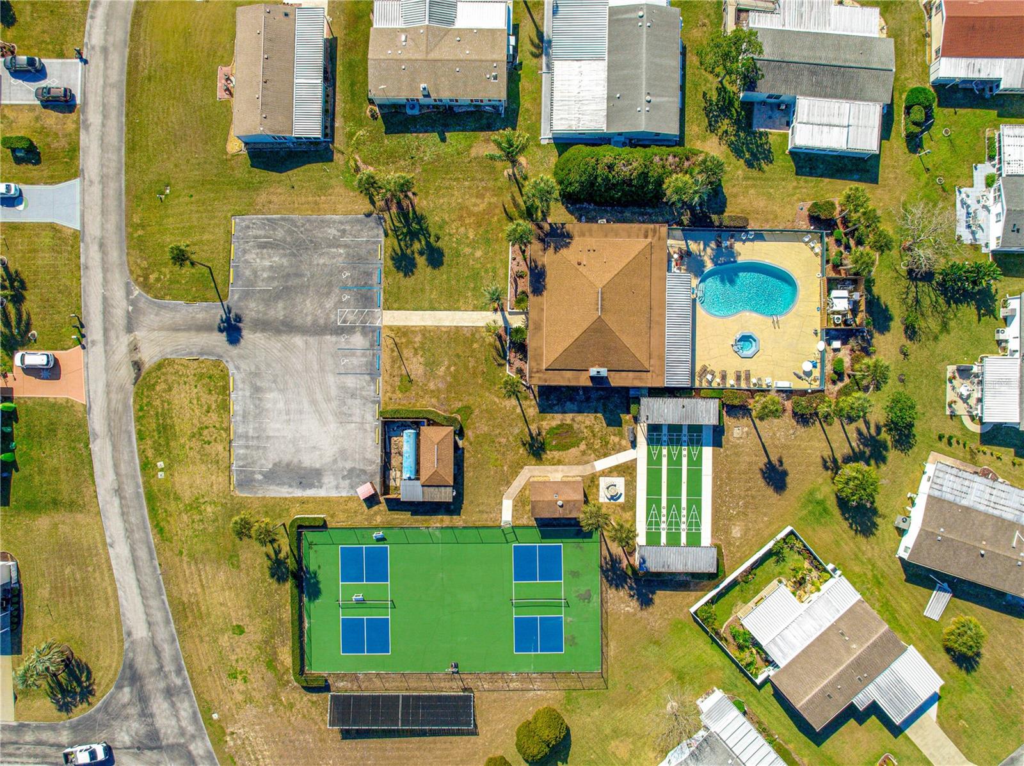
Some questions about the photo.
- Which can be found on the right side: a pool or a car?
pool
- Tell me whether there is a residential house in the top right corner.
Yes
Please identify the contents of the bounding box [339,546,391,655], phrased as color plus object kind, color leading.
blue sports court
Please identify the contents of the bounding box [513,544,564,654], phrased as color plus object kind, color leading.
blue sports court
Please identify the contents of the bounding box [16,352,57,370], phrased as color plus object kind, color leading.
white car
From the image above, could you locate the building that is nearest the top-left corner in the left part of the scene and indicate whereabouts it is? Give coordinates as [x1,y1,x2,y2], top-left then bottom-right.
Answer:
[234,2,329,143]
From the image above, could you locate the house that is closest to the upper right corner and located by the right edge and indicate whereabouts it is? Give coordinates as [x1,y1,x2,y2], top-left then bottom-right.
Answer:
[925,0,1024,95]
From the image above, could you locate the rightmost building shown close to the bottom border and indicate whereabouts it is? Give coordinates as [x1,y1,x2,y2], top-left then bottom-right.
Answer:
[735,577,944,731]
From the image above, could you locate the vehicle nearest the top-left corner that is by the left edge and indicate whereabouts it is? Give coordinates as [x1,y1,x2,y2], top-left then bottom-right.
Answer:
[4,54,43,73]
